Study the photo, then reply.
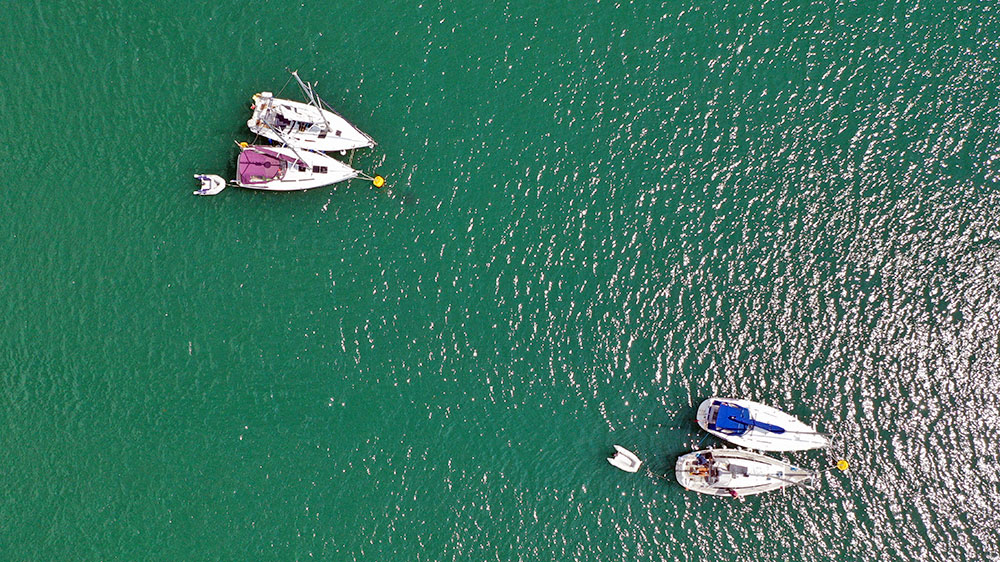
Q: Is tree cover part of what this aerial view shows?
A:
No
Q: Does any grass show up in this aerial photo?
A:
No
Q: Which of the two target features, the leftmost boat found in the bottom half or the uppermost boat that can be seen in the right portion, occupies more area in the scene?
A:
the uppermost boat that can be seen in the right portion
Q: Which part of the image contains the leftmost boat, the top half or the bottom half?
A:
top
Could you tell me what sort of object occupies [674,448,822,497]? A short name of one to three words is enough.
boat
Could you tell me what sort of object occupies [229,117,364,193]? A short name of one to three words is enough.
boat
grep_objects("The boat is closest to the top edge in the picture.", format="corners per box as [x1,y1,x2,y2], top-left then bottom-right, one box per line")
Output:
[250,70,377,151]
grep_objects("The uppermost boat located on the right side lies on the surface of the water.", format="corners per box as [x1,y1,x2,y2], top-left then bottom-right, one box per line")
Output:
[695,398,839,452]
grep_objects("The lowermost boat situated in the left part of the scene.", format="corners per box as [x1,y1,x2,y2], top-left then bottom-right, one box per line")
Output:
[194,175,227,195]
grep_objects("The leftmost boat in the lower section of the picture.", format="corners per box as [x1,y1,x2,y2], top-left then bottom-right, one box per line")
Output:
[607,445,641,470]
